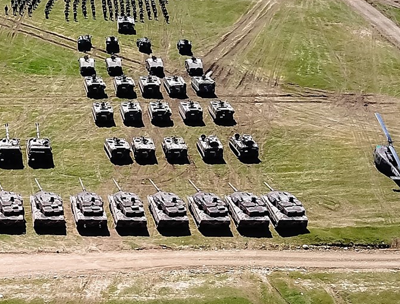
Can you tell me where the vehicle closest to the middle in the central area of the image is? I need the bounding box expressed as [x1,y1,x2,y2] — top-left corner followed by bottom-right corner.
[194,131,222,159]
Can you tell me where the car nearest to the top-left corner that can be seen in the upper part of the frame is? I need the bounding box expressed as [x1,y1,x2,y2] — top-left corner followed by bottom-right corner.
[76,36,89,50]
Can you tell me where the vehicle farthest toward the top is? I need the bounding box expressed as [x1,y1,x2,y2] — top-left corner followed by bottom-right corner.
[115,12,134,31]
